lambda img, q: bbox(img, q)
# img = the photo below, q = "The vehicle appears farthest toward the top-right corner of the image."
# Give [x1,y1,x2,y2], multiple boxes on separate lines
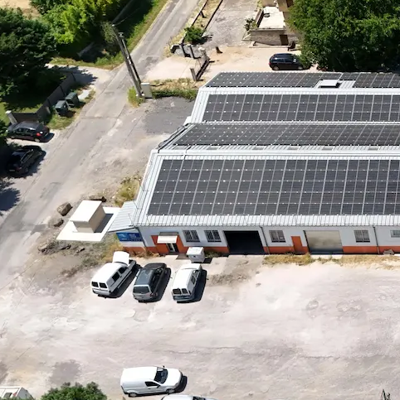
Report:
[269,51,309,69]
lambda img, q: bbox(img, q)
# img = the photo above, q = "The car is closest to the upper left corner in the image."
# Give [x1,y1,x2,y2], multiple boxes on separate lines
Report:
[10,118,52,139]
